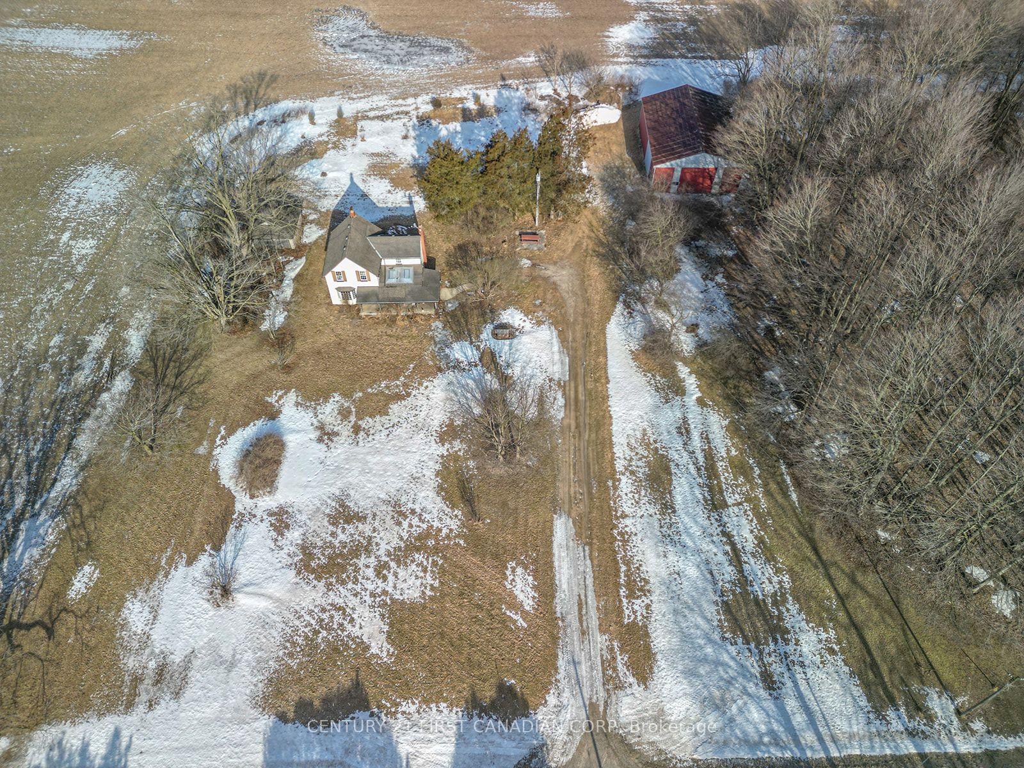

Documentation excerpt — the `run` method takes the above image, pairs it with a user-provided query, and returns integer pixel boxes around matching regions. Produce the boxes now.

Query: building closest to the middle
[322,206,442,319]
